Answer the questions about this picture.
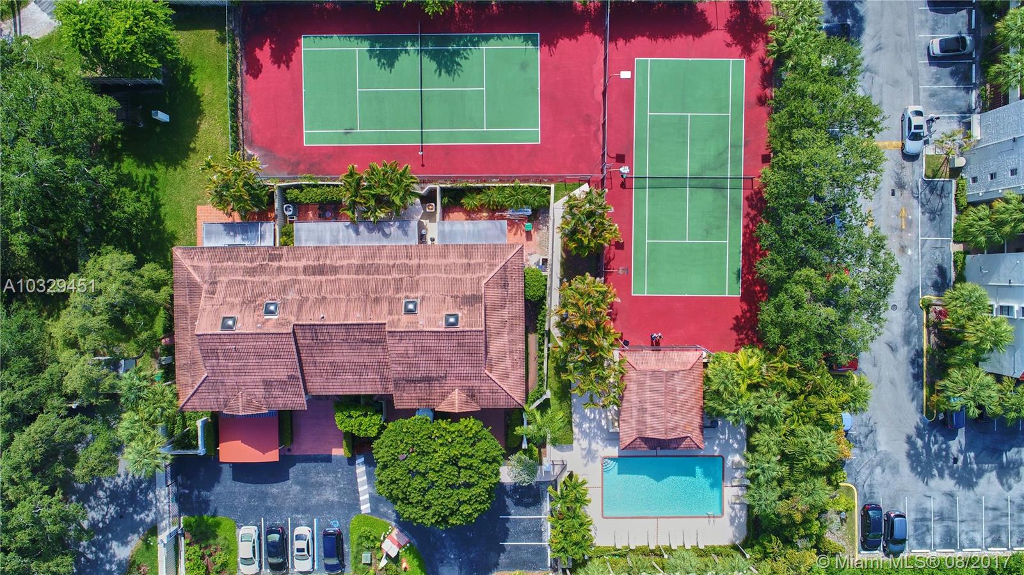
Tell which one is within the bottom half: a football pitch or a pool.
pool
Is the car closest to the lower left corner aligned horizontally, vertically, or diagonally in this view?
vertically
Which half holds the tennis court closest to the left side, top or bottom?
top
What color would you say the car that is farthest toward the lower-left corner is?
white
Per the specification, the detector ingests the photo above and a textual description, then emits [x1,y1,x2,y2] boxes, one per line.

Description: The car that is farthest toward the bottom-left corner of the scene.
[238,524,262,573]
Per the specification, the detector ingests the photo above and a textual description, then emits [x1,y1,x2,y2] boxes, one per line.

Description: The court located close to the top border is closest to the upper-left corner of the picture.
[242,0,604,180]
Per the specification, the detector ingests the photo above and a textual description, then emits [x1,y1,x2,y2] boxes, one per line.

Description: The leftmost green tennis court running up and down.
[601,0,773,345]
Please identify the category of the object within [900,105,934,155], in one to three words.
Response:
car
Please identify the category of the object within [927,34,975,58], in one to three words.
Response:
car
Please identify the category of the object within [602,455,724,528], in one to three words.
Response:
swimming pool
